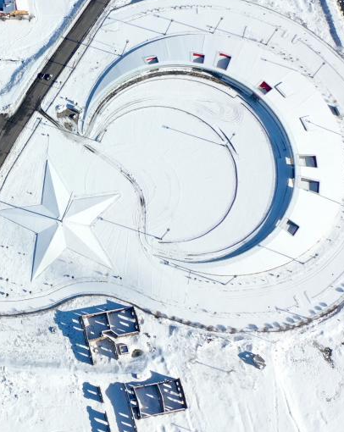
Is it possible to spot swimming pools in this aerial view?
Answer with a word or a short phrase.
No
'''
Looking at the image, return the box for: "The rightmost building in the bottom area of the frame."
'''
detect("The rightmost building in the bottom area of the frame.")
[131,378,187,419]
